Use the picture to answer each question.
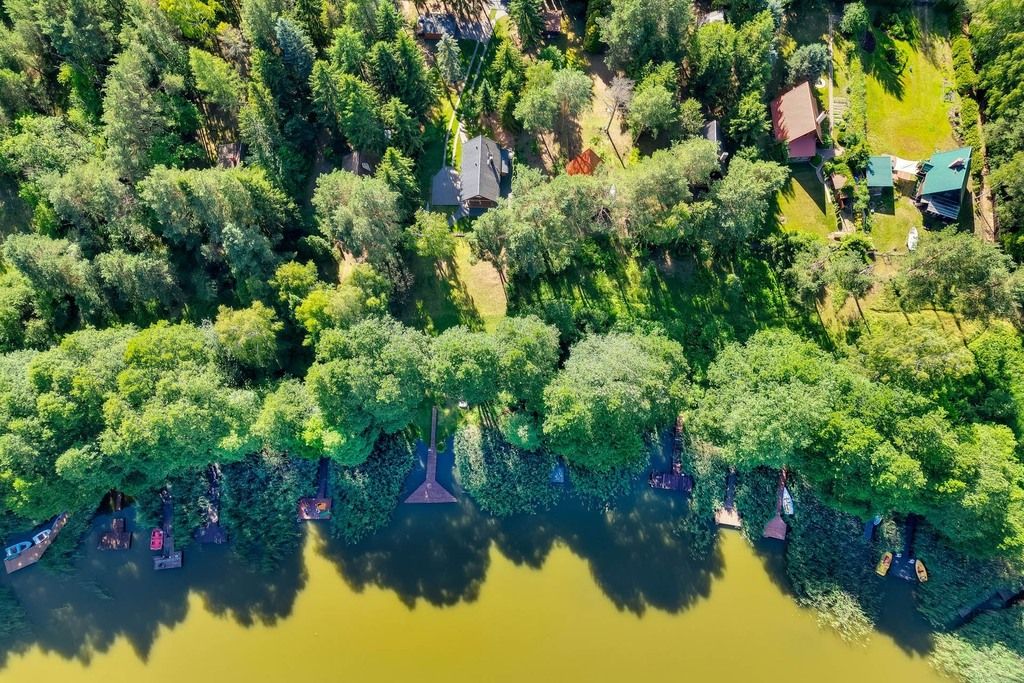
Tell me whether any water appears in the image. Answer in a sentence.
Yes, there's water in this view.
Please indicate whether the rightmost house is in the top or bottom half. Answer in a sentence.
The rightmost house is in the top half of the image.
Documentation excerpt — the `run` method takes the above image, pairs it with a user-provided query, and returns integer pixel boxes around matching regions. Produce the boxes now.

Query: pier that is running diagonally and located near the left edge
[4,513,69,573]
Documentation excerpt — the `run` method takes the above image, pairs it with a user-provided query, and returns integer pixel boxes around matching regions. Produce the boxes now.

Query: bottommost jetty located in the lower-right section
[888,515,916,582]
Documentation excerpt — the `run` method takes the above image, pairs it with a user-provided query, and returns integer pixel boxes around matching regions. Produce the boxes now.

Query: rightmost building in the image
[913,147,972,219]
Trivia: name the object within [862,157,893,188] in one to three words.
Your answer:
shed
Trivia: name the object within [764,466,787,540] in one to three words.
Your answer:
pier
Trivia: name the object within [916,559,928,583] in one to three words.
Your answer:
boat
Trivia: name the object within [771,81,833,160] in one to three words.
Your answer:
house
